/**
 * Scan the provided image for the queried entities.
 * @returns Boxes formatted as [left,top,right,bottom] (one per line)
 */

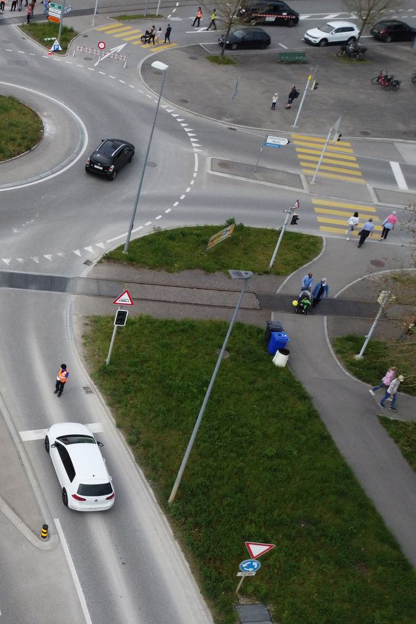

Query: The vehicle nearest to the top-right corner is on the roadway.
[371,17,416,42]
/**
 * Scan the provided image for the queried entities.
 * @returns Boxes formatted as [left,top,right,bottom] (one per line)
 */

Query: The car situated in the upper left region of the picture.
[85,138,138,181]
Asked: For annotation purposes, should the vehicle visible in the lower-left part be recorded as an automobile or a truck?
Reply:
automobile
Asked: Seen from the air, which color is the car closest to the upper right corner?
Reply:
black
